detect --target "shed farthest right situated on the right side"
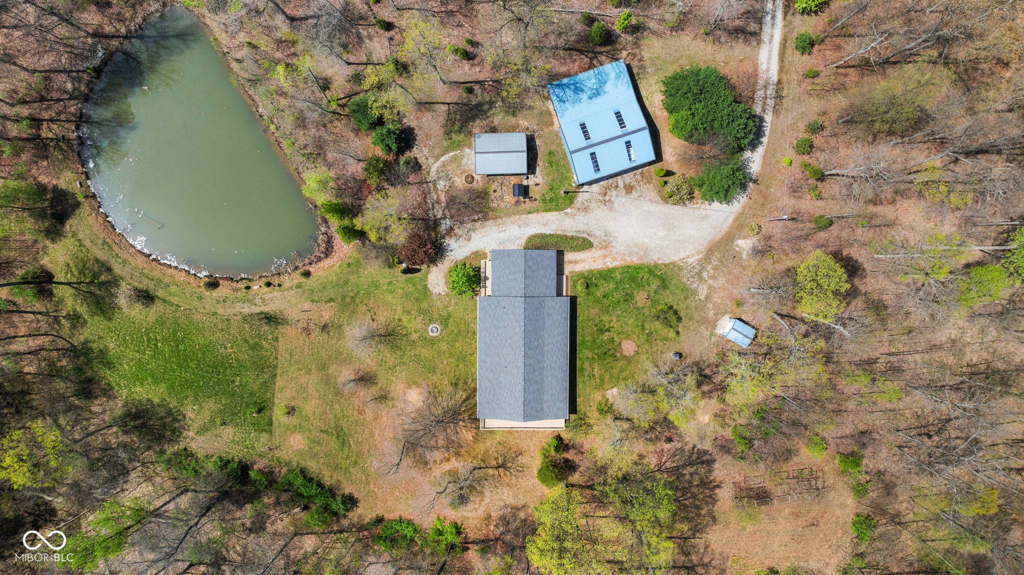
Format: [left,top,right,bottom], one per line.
[720,319,755,347]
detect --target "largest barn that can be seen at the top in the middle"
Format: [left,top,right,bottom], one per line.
[546,60,656,185]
